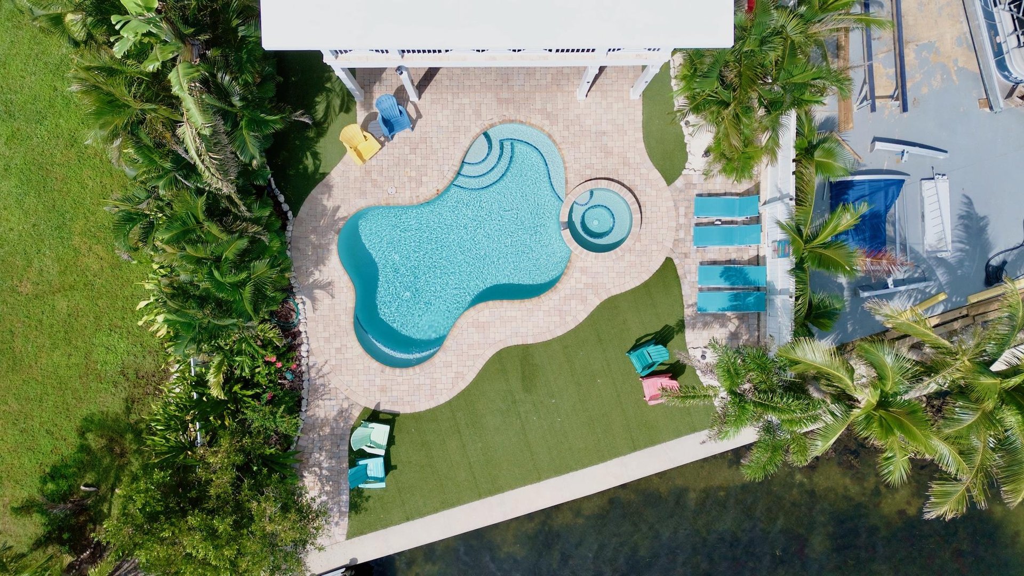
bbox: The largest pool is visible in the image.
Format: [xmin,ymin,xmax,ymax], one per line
[328,114,581,377]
